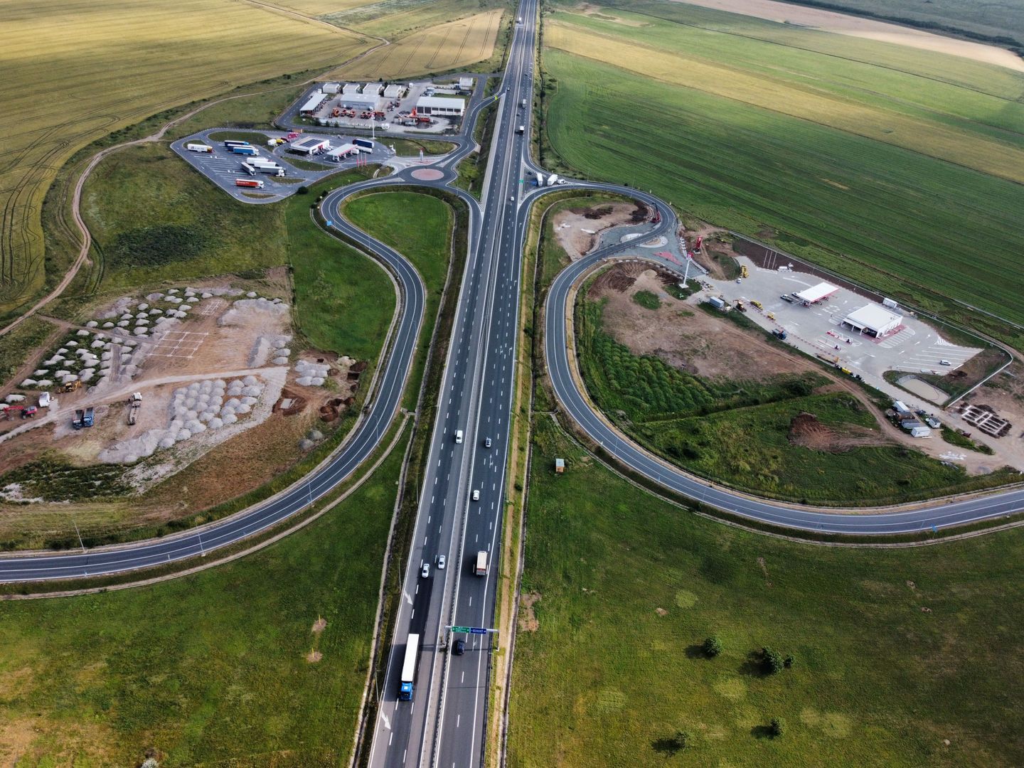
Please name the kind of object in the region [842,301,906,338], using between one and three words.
building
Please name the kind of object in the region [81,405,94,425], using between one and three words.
vehicle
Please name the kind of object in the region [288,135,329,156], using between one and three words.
building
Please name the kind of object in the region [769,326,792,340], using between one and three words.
vehicle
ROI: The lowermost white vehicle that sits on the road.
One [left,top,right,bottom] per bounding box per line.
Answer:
[398,631,419,698]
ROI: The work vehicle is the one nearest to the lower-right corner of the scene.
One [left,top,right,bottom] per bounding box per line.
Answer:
[955,427,979,441]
